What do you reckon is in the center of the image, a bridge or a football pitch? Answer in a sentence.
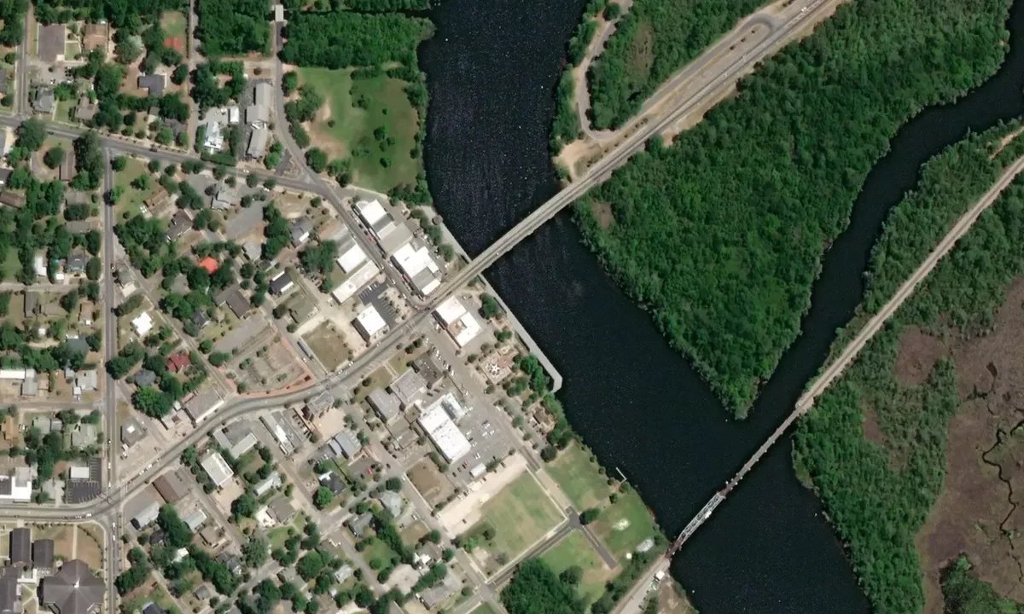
There is a bridge in the center of the image.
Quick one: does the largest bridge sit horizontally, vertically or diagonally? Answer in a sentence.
I'd say the largest bridge is aligned diagonally in the picture.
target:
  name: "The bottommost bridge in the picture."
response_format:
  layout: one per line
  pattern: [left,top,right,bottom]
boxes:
[667,405,802,559]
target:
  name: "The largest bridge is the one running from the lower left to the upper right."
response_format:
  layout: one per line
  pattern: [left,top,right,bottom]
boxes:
[411,174,596,319]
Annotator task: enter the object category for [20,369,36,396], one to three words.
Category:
house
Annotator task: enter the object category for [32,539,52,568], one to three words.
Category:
building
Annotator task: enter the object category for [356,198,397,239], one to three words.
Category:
building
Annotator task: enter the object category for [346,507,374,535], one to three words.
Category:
house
